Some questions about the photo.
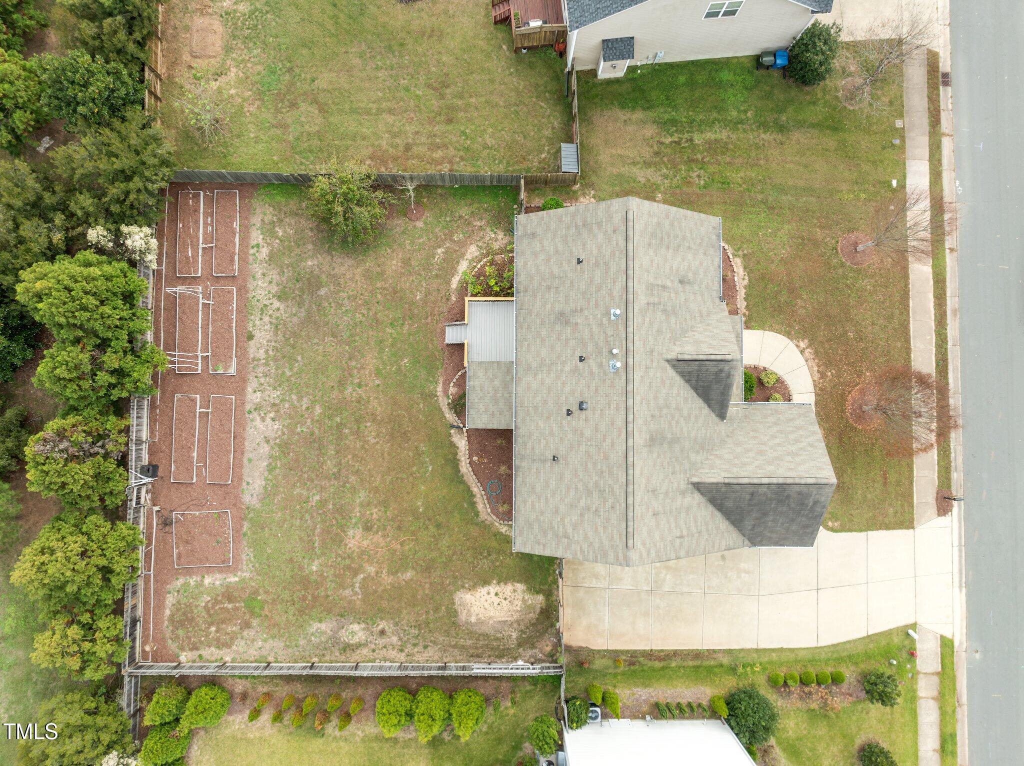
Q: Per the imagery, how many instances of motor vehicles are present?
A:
none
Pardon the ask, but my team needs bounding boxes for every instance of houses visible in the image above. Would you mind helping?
[465,196,836,568]
[561,711,764,766]
[563,0,829,78]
